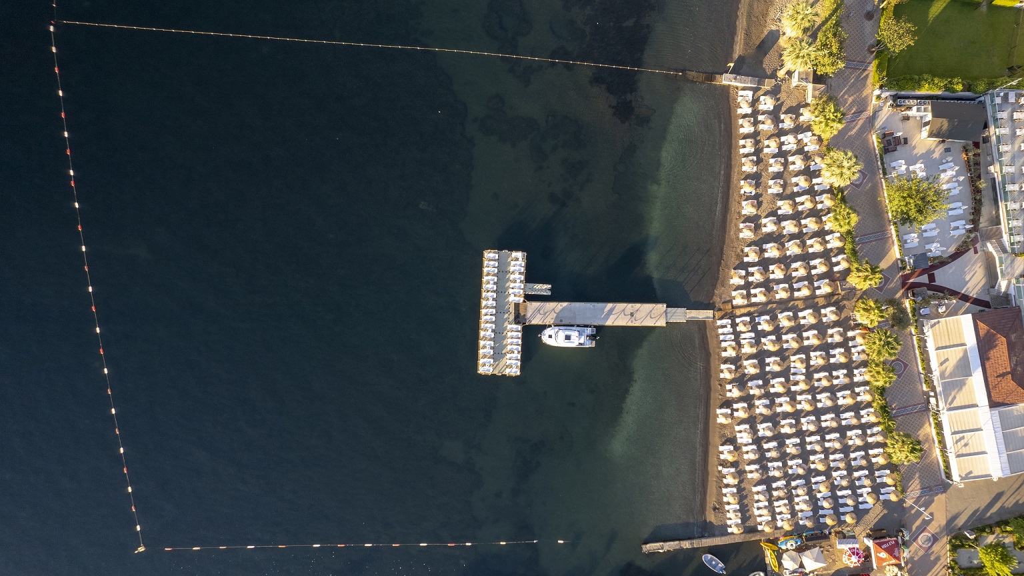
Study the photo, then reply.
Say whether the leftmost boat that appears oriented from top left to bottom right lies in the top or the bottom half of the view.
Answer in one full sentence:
The leftmost boat that appears oriented from top left to bottom right sits in the bottom half of the picture.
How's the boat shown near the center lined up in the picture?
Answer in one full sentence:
Seen from above, the boat shown near the center lies from left to right.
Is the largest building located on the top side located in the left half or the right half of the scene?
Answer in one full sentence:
The largest building located on the top side appears in the right half of the scene.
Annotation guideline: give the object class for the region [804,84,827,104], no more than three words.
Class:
building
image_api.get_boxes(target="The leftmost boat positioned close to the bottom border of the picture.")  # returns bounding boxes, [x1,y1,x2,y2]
[702,555,729,576]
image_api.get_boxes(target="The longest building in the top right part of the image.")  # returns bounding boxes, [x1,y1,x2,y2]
[895,101,987,145]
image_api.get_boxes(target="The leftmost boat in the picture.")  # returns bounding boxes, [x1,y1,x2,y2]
[538,324,601,347]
